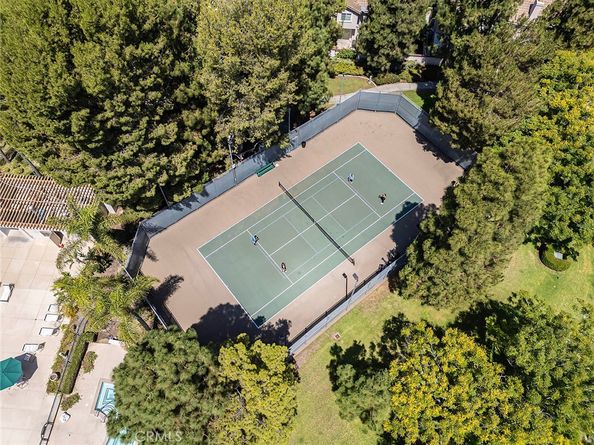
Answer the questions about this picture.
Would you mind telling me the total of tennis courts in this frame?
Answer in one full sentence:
The picture shows 1 tennis court.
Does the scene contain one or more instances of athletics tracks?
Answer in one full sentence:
No, the scene contains no athletics track.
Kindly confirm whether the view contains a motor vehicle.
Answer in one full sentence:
No, no motor vehicle can be seen from above.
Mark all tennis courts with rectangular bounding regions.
[138,110,463,368]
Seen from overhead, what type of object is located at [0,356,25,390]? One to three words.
umbrella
